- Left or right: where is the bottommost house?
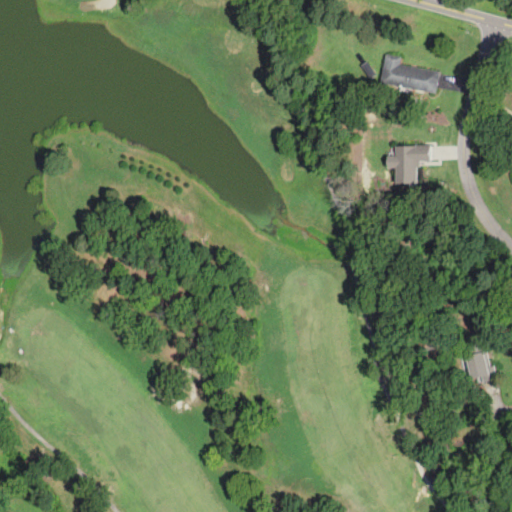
right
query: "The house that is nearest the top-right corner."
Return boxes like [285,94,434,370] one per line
[380,54,440,95]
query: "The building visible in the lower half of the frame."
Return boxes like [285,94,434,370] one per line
[466,352,496,387]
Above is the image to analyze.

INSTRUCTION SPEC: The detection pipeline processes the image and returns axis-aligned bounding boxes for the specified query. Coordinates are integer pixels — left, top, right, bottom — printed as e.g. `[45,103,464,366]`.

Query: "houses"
[380,54,440,95]
[386,145,432,184]
[466,352,496,387]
